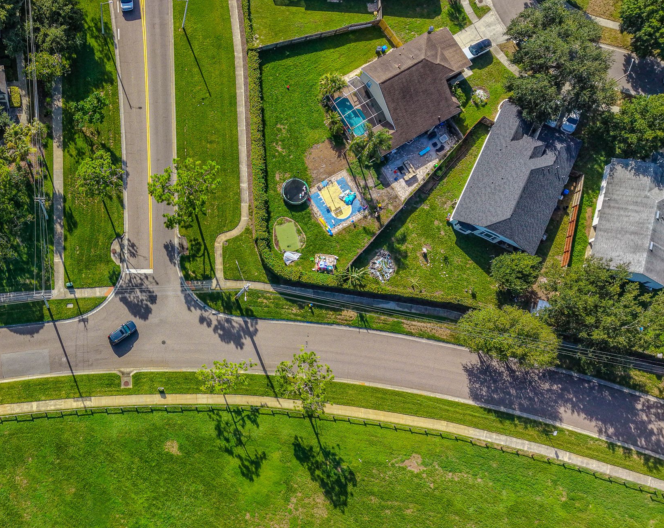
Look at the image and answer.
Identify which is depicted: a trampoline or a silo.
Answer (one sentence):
I can see a trampoline in this picture.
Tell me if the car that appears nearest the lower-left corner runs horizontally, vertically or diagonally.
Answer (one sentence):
Seen from above, the car that appears nearest the lower-left corner lies diagonally.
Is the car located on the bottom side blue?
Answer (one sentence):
Yes, the car located on the bottom side is blue.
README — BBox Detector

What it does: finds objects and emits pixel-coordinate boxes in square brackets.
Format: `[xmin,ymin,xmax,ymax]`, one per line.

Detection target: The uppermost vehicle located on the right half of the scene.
[463,38,495,61]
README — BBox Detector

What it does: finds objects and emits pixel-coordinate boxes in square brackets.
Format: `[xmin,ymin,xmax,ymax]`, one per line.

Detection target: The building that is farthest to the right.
[580,152,664,279]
